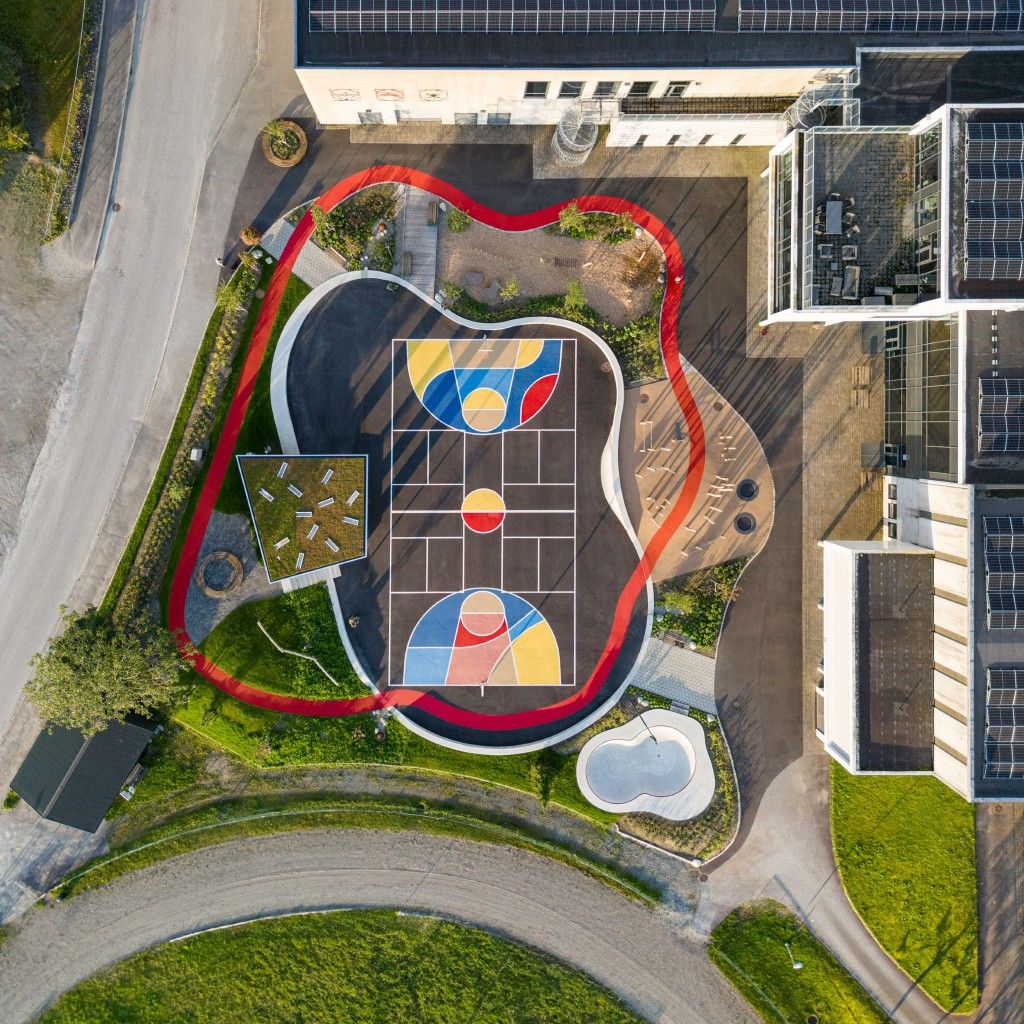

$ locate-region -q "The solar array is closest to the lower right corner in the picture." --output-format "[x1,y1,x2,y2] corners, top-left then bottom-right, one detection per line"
[986,670,1024,780]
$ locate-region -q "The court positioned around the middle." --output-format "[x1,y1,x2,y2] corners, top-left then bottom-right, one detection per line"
[389,339,577,686]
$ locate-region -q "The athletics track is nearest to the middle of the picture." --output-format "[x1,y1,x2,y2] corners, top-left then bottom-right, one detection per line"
[167,163,705,731]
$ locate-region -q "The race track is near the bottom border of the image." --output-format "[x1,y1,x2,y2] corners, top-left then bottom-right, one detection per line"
[0,829,763,1024]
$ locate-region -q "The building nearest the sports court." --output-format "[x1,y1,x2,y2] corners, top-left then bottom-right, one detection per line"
[237,455,368,595]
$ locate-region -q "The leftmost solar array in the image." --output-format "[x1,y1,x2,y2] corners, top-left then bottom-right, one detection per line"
[307,0,720,33]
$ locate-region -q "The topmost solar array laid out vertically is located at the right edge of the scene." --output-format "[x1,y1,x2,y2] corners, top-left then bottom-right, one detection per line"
[966,123,1024,279]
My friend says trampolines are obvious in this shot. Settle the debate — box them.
[737,479,759,501]
[734,512,756,534]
